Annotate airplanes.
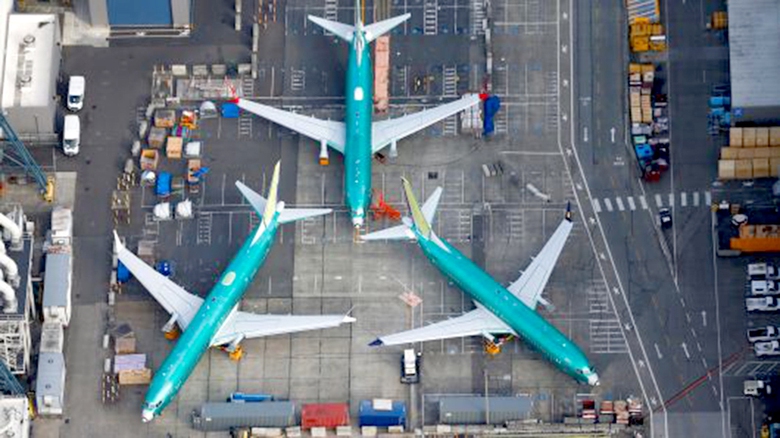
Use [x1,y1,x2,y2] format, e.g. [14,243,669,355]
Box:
[229,0,488,228]
[366,178,598,385]
[110,160,359,420]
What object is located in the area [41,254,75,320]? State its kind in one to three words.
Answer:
trailer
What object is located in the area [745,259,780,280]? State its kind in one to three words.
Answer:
truck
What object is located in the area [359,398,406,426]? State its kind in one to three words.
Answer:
shipping container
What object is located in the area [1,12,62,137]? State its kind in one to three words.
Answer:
building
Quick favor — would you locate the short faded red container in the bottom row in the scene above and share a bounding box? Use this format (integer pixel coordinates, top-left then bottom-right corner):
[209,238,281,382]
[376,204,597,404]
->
[302,402,350,427]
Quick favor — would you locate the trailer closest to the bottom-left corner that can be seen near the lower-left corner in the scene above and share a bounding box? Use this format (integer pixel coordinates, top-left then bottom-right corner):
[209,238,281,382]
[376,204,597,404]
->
[34,353,69,413]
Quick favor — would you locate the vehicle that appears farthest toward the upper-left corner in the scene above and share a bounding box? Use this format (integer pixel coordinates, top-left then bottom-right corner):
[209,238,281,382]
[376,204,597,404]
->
[66,76,84,109]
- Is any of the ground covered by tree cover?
No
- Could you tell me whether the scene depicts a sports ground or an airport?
airport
